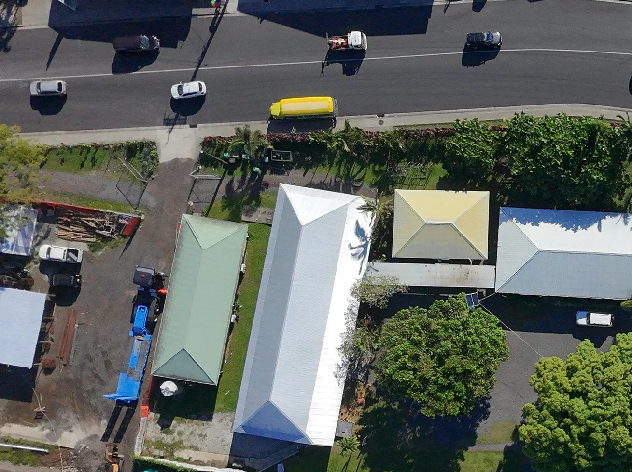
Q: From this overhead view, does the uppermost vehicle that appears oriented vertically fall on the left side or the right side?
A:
left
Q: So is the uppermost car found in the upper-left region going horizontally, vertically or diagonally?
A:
horizontally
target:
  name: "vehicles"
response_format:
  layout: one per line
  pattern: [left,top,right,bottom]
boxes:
[113,34,162,54]
[467,31,503,49]
[98,266,160,400]
[172,81,208,101]
[324,31,368,52]
[40,246,84,265]
[32,80,68,98]
[270,97,343,122]
[577,311,613,328]
[46,272,91,290]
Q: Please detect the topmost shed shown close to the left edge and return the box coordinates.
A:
[0,201,48,255]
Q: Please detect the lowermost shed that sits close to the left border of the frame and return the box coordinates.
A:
[0,287,61,370]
